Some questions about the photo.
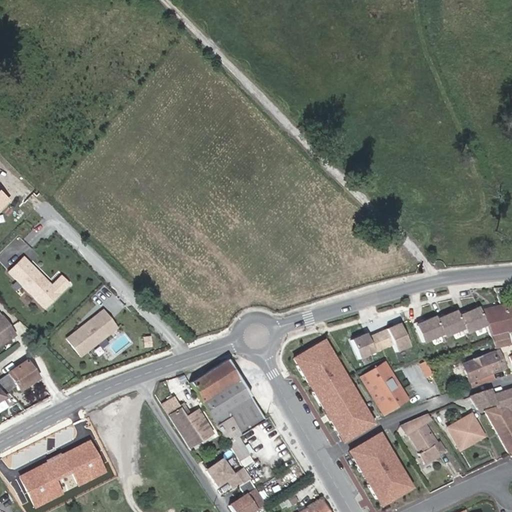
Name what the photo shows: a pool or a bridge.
pool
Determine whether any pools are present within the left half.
Yes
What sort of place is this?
residential area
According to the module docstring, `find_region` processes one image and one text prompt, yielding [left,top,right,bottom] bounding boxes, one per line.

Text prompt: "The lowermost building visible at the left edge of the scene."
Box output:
[18,438,107,509]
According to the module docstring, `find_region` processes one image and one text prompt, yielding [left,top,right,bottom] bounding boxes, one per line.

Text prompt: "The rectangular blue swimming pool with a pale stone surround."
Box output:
[104,330,133,361]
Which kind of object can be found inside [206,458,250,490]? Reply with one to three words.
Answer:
house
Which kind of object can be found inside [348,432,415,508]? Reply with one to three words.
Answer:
building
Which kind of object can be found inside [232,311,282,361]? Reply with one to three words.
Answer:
roundabout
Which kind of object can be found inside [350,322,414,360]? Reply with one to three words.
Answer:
house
